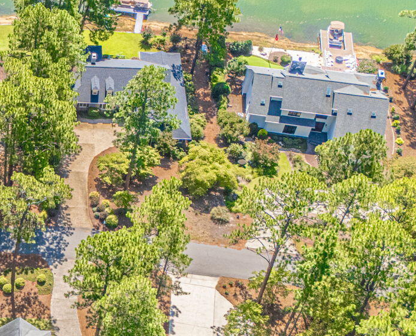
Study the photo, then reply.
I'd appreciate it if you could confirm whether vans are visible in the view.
No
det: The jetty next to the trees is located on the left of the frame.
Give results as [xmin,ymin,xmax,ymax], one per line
[109,6,150,33]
